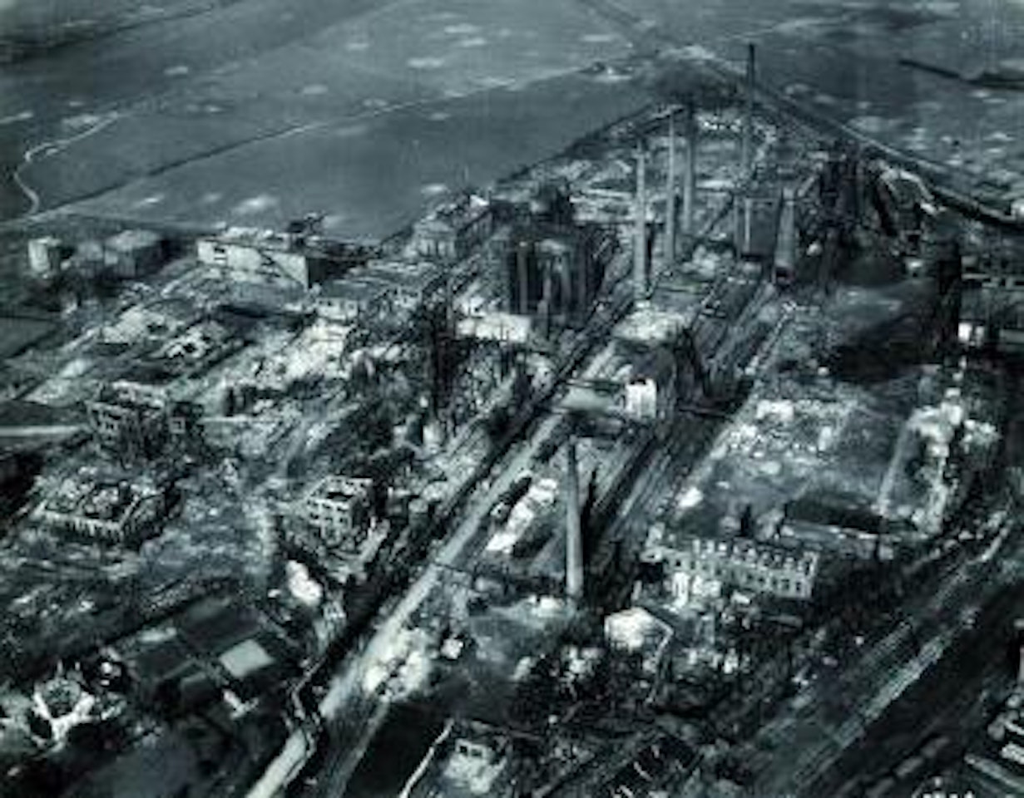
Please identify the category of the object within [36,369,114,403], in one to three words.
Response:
building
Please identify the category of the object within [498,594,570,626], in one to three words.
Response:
building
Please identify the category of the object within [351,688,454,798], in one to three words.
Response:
shed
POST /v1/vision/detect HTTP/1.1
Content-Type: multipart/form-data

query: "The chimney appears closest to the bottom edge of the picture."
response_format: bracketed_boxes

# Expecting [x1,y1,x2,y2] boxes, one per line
[562,437,590,614]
